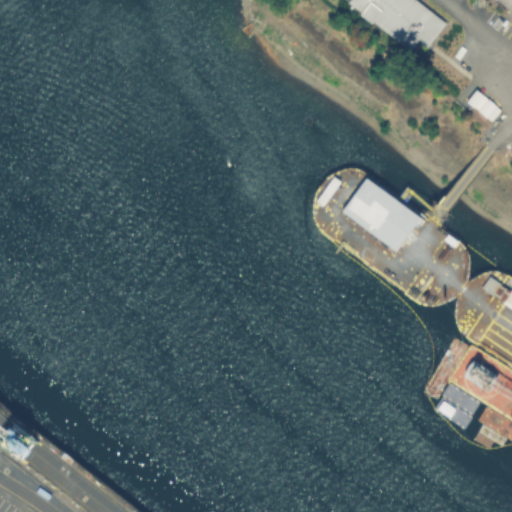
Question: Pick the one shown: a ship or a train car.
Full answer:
The image shows a ship.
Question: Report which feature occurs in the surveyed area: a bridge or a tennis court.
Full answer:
Visible in the photo is a bridge.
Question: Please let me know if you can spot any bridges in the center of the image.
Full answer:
No, I can find no bridge in the center of the image.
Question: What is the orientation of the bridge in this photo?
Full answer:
From this overhead view, the bridge appears to run at an angle.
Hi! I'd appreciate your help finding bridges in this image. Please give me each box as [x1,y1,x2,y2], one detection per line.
[441,144,497,209]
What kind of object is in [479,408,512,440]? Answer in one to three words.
ship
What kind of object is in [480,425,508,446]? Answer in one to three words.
ship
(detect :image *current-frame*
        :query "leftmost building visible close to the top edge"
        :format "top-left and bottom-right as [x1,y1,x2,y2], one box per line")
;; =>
[352,0,448,57]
